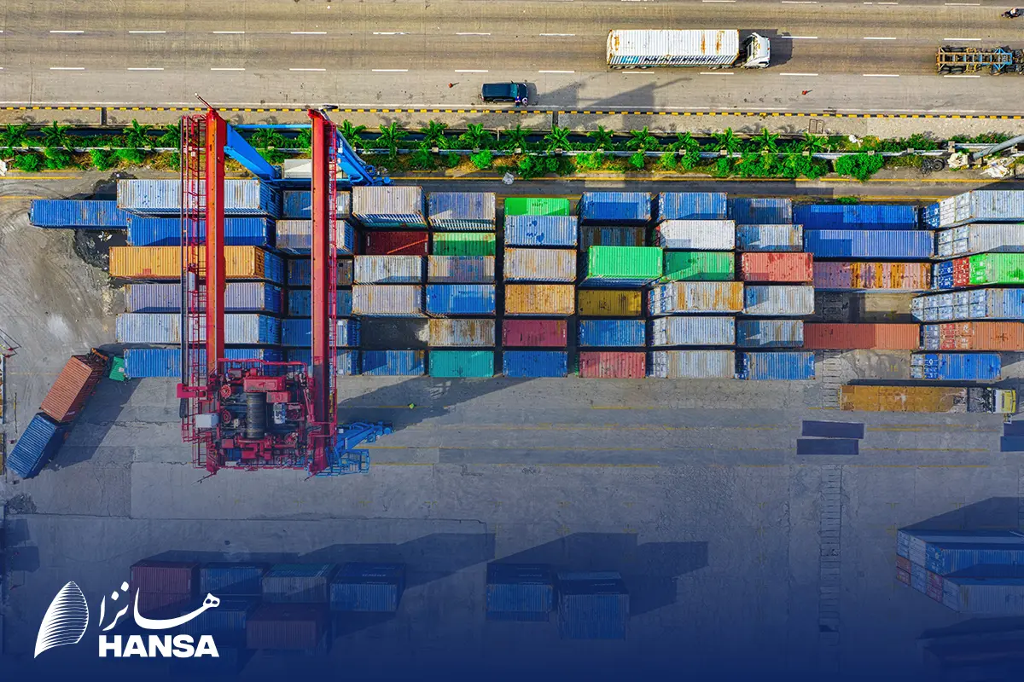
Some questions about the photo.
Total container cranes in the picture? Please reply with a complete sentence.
Altogether the scene contains 1 container crane.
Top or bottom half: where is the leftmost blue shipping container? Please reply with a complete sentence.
You can find the leftmost blue shipping container in the bottom half.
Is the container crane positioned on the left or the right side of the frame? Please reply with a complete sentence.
The container crane is on the left side of the image.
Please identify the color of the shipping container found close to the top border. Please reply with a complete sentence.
From above, the shipping container found close to the top border appears white.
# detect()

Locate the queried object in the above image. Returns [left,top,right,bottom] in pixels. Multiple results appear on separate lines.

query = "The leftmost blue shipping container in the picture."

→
[3,411,76,481]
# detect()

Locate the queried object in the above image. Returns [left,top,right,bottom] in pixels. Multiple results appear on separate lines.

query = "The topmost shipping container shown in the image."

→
[604,32,739,71]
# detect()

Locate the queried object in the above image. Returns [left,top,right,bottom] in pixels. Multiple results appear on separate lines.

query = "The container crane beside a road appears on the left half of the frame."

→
[166,88,413,486]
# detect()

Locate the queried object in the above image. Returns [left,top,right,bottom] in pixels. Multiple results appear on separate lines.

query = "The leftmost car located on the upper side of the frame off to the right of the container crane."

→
[481,80,529,104]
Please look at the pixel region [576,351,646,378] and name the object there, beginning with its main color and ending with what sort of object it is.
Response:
red shipping container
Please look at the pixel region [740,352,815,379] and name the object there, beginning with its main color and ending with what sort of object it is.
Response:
blue shipping container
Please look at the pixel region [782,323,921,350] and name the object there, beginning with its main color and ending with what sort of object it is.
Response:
red shipping container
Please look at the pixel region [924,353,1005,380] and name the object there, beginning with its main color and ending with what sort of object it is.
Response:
blue shipping container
